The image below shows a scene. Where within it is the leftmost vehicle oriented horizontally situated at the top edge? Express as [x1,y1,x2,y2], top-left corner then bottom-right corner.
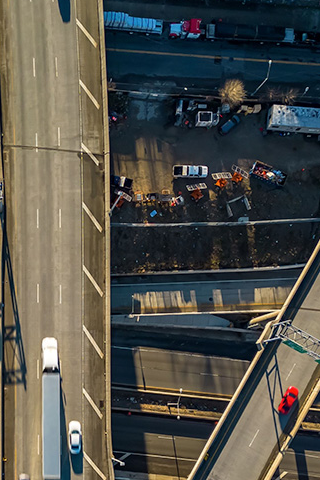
[106,15,205,42]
